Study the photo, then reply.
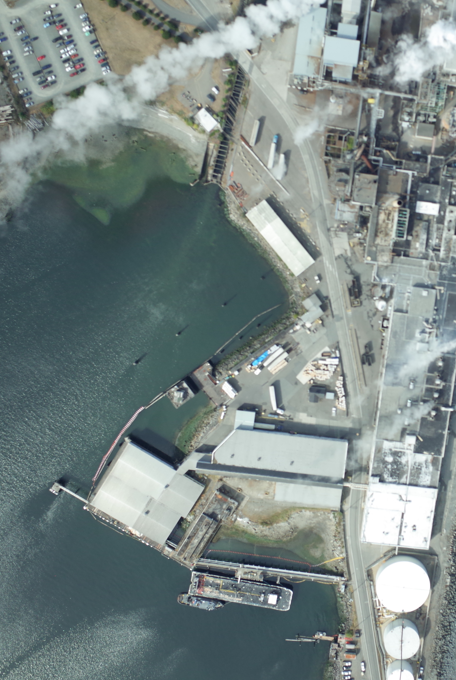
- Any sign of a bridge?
Yes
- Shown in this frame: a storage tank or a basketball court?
storage tank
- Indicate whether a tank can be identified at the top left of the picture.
No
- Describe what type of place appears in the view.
port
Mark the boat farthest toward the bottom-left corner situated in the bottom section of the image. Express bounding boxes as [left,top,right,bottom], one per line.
[176,592,225,611]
